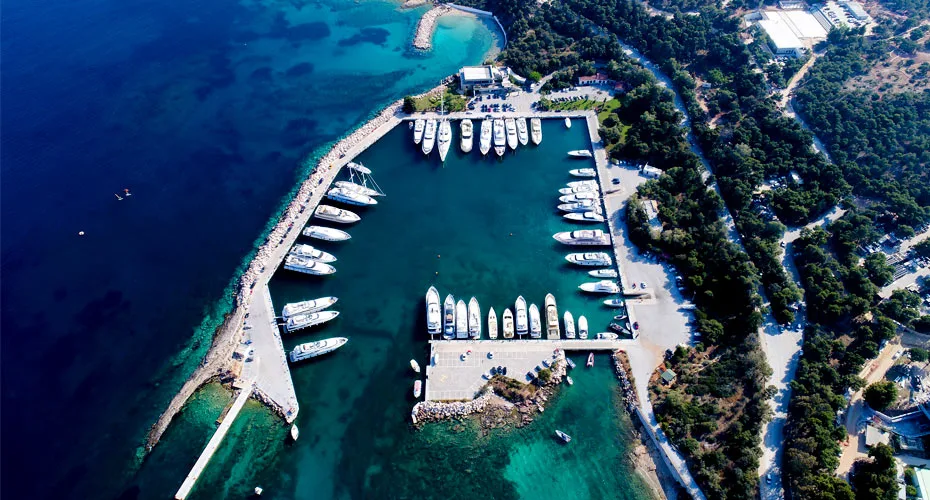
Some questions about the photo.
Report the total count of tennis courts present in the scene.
none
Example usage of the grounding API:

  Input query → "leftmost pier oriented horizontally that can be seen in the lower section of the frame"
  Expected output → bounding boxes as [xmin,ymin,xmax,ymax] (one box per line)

[412,339,632,419]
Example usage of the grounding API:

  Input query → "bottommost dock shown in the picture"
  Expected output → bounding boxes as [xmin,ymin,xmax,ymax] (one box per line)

[176,383,255,500]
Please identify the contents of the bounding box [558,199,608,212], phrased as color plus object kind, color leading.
white boat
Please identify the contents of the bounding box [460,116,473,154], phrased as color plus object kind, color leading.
white boat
